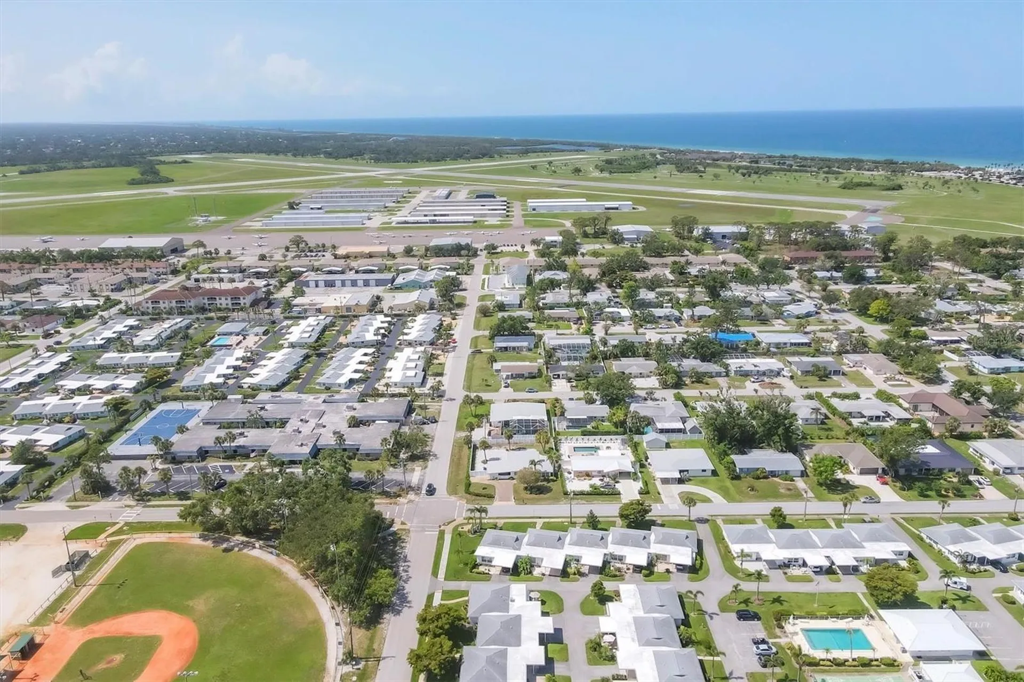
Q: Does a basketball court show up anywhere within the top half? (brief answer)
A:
No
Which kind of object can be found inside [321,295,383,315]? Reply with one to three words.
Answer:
building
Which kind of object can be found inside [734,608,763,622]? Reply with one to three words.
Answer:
car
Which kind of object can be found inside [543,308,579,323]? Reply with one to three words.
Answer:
house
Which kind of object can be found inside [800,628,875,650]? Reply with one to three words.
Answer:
swimming pool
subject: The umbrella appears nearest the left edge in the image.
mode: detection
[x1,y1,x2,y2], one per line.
[526,588,543,600]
